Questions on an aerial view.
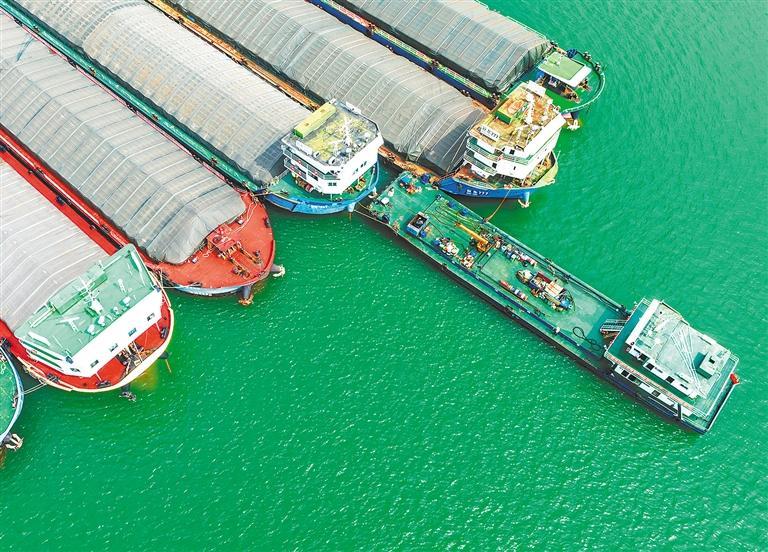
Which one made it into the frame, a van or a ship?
ship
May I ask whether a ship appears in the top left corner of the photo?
Yes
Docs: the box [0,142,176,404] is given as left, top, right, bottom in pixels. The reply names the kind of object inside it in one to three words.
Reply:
ship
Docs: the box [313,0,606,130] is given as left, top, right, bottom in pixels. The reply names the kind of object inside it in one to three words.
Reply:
ship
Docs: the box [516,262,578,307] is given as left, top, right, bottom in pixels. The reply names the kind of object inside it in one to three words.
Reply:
boat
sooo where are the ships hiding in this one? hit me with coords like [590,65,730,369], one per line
[0,142,176,404]
[0,9,282,302]
[313,0,606,130]
[154,0,568,207]
[0,0,381,220]
[364,172,742,434]
[0,335,30,454]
